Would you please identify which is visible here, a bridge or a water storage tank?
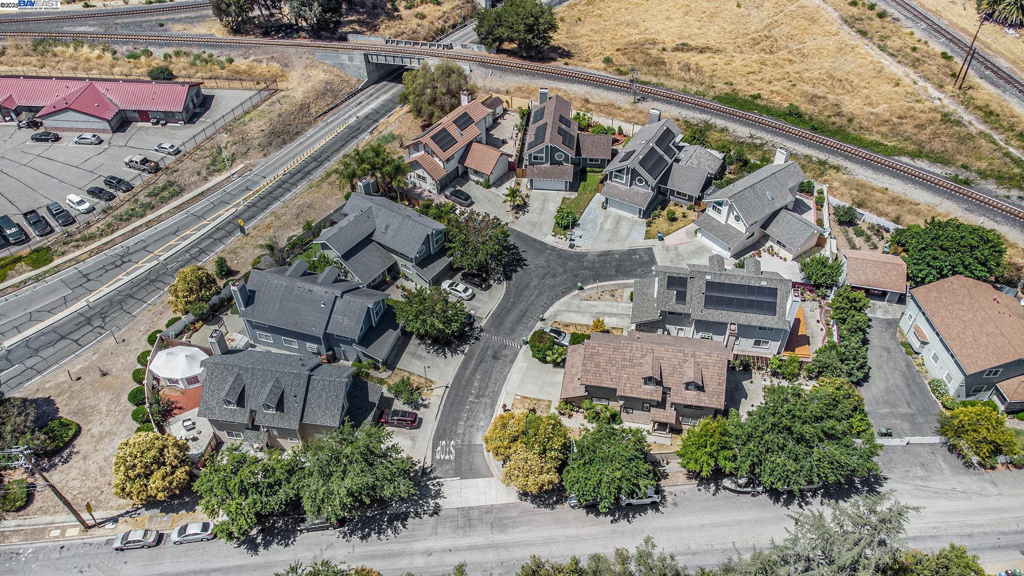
bridge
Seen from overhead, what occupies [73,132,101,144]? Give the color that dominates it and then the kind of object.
gray vehicle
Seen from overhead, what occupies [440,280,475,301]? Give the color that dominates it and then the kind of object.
white car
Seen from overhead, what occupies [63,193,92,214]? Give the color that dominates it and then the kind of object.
white car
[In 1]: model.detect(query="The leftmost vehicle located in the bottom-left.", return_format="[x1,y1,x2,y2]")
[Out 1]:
[110,529,158,553]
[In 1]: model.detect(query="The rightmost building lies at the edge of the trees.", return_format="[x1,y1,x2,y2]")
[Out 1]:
[901,270,1024,414]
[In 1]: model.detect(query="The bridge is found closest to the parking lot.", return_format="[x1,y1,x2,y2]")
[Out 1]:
[319,29,510,86]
